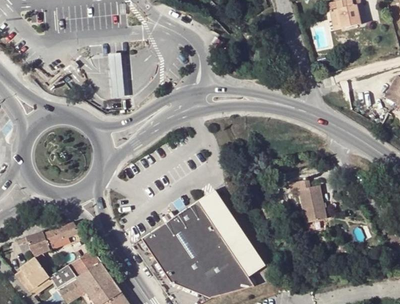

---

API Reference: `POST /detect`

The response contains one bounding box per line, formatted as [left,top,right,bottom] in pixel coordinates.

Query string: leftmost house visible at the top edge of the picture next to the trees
[328,0,362,31]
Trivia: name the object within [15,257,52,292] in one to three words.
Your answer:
house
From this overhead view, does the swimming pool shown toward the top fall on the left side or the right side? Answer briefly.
right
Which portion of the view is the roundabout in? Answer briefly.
left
